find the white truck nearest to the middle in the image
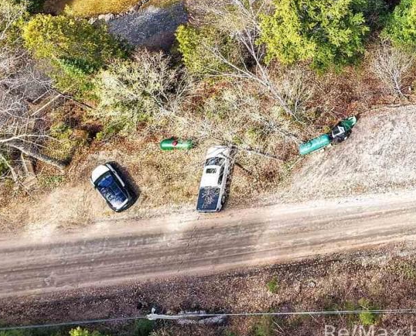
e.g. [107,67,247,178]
[197,147,230,215]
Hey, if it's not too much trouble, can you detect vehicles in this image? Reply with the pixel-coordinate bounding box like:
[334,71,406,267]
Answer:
[197,147,230,215]
[324,116,358,142]
[93,166,133,215]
